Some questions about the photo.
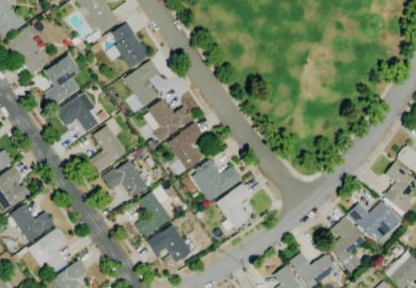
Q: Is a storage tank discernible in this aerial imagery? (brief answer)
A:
No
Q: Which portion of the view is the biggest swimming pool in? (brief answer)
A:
top left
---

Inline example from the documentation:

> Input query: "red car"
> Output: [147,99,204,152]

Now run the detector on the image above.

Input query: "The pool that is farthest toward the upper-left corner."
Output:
[70,13,90,37]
